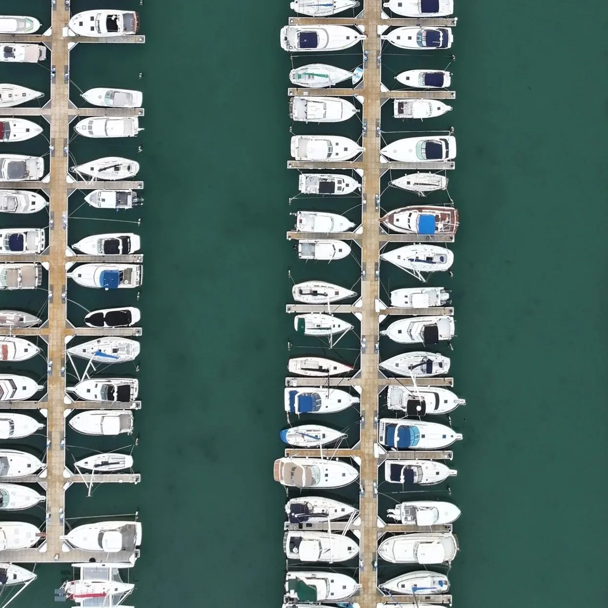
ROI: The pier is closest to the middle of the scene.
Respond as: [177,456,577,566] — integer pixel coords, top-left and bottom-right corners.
[285,293,362,324]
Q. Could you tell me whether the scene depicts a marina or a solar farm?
marina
